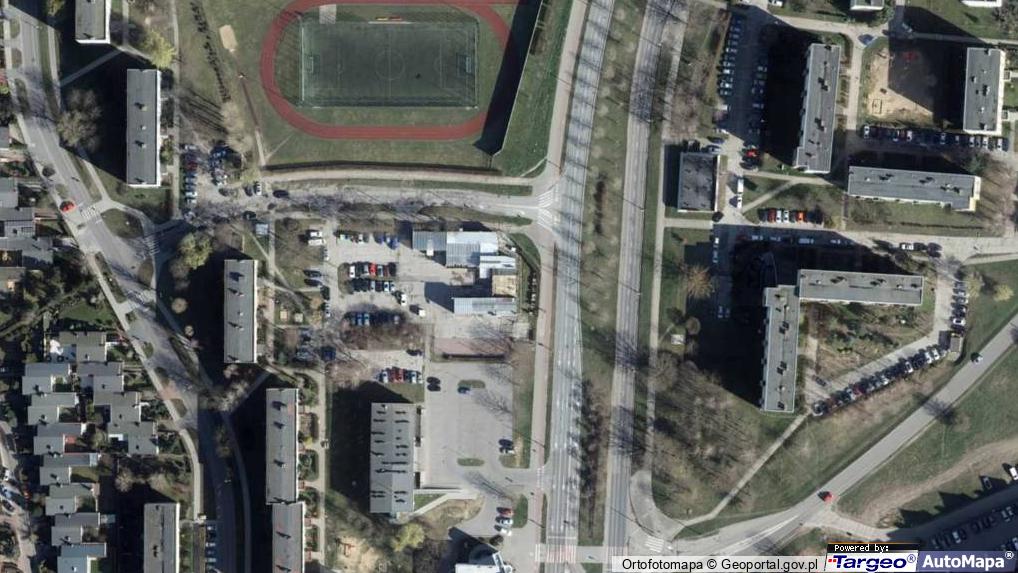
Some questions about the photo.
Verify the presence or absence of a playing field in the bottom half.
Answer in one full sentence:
No, there's no playing field to be seen in the bottom half.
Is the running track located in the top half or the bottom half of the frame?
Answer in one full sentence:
You can find the running track in the top half.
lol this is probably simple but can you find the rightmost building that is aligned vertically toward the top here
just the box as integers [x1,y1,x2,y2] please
[963,48,1004,135]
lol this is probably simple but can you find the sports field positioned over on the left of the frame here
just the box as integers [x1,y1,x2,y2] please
[302,22,476,106]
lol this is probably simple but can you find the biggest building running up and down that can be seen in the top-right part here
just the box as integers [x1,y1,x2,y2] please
[796,44,844,176]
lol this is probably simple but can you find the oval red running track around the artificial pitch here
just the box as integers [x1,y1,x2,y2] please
[260,0,532,140]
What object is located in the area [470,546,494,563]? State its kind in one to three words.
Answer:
building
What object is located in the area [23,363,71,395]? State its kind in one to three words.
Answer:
house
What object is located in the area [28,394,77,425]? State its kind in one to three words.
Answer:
house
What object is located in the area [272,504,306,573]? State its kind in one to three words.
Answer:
building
